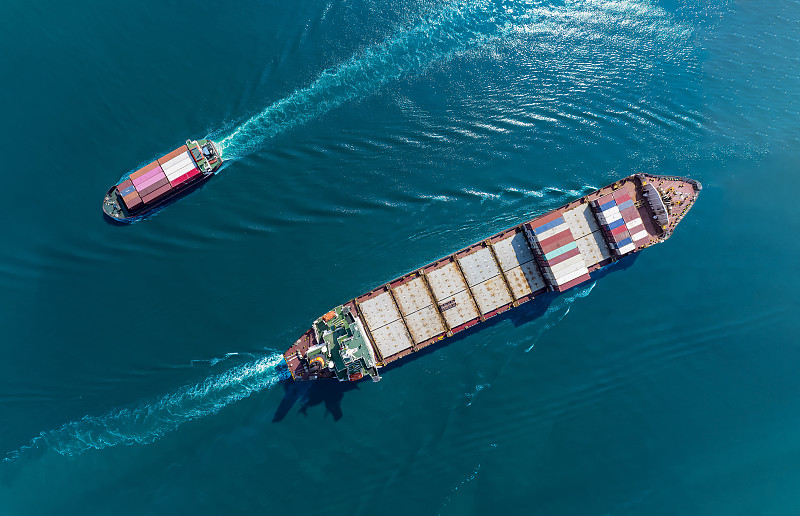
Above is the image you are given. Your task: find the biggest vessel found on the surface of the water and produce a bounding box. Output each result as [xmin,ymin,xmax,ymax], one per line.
[283,174,702,384]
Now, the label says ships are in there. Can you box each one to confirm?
[102,137,224,217]
[283,174,702,384]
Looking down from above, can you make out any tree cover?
No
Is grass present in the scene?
No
